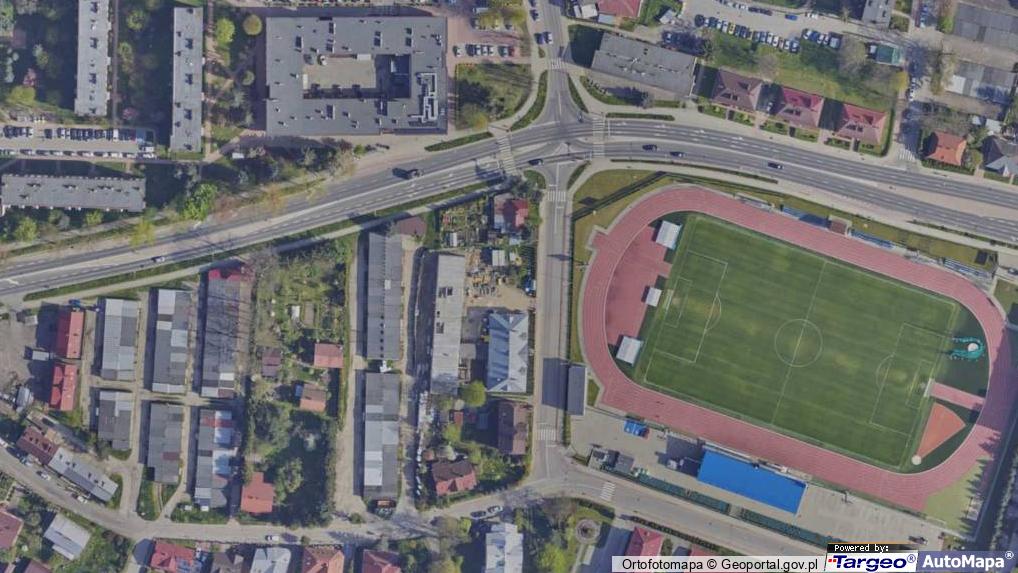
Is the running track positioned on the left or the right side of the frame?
right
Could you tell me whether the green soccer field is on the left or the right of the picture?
right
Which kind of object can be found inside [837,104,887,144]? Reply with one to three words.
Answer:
house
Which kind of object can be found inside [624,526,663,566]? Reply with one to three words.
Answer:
house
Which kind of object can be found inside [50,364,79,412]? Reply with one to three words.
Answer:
building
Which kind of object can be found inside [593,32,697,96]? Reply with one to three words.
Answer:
building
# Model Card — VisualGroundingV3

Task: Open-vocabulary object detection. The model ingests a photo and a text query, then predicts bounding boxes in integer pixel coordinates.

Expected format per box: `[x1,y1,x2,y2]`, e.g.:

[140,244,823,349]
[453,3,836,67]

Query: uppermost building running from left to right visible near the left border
[1,173,148,212]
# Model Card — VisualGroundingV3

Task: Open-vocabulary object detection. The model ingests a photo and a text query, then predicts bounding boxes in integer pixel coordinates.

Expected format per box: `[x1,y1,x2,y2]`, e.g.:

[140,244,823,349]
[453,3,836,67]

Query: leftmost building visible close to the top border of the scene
[75,0,113,117]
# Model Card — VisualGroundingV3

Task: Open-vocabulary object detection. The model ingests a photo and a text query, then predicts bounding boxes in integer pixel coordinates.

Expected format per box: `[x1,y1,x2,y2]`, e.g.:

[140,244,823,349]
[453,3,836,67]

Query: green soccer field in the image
[635,217,958,469]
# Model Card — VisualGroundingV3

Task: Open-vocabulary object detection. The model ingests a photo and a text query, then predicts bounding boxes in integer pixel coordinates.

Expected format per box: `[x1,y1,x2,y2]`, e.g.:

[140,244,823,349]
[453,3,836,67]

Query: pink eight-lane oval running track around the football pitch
[577,188,1018,508]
